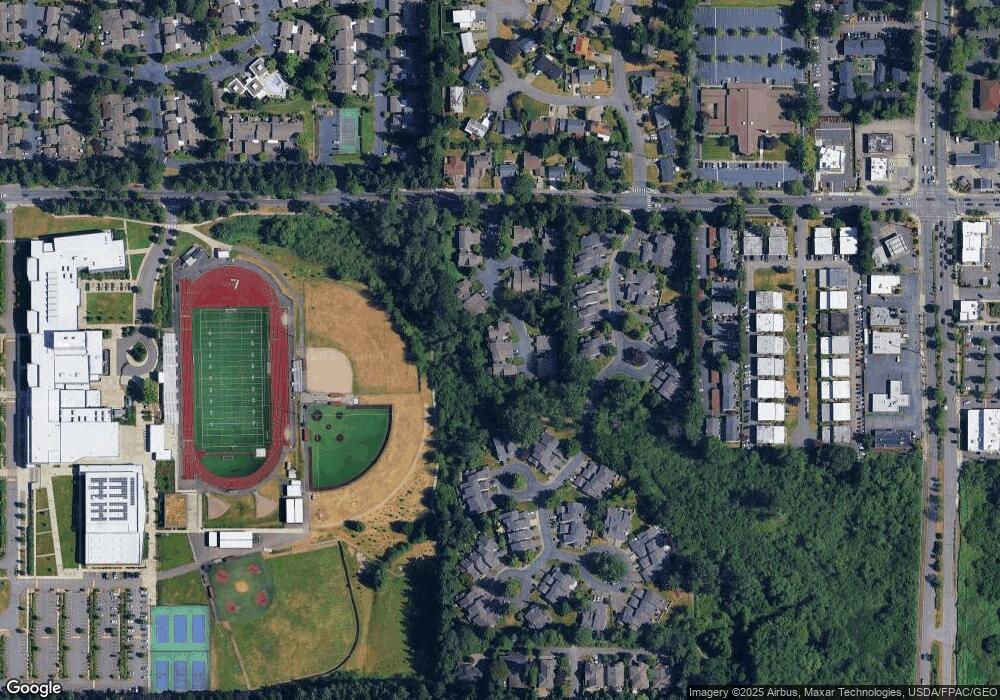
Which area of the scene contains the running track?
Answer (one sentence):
The running track appears toward the left of the photo.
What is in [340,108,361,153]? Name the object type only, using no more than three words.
tennis court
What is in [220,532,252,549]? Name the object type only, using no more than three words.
shed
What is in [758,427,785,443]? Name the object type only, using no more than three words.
house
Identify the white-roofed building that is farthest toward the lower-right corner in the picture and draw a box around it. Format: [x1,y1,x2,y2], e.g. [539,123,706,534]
[968,410,1000,452]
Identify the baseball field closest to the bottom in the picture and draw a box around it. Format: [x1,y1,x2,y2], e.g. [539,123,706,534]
[212,556,274,624]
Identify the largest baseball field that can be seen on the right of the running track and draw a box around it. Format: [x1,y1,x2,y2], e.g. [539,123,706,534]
[302,402,392,490]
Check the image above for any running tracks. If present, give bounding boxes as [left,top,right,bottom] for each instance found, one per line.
[181,265,289,489]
